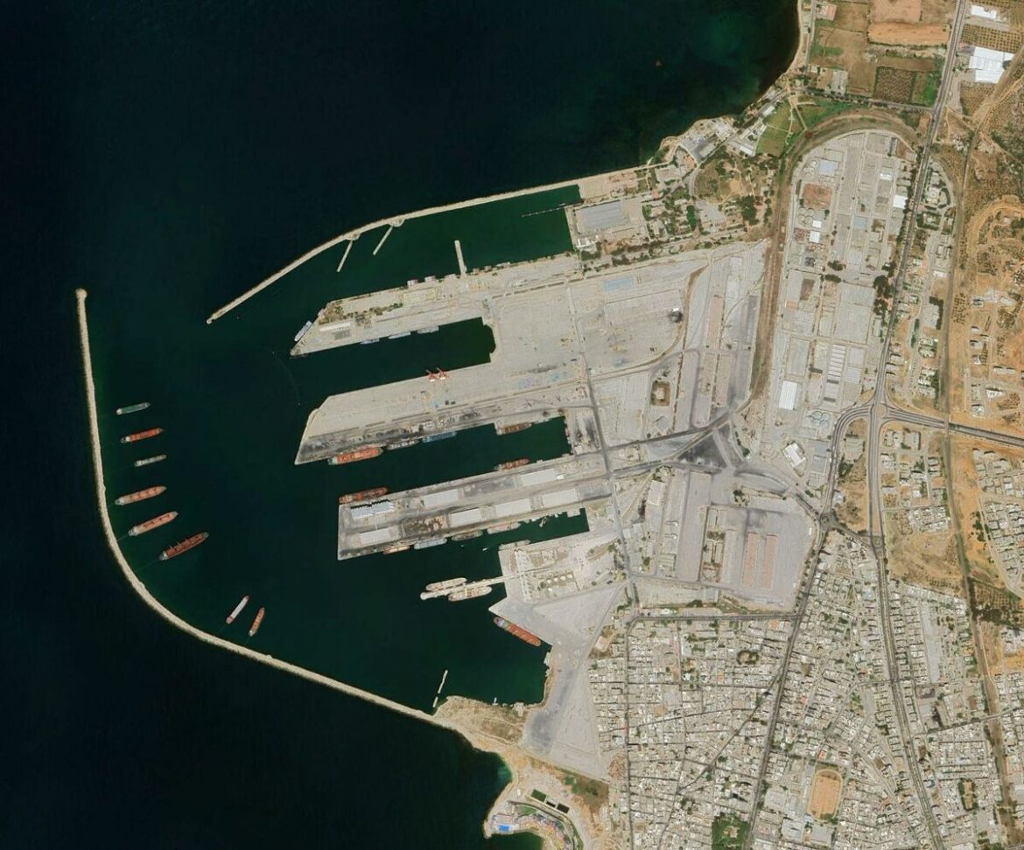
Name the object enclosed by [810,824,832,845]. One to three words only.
building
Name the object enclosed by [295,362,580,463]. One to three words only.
pier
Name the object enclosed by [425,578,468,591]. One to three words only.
ship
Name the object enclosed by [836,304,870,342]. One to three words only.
shed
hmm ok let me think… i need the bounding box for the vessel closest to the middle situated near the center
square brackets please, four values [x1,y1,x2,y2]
[496,422,532,435]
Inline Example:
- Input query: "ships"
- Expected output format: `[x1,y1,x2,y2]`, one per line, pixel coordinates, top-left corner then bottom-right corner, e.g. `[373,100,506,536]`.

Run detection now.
[414,538,447,550]
[495,458,529,471]
[383,545,410,555]
[338,487,388,504]
[327,447,384,466]
[114,486,168,506]
[448,586,493,601]
[417,324,440,332]
[496,422,532,435]
[452,530,483,541]
[487,522,522,534]
[120,428,164,443]
[248,607,265,637]
[422,430,457,443]
[386,439,421,450]
[360,339,380,345]
[116,402,151,414]
[388,332,410,339]
[134,455,166,466]
[492,616,542,646]
[127,512,180,537]
[499,540,530,550]
[158,533,210,562]
[225,596,248,624]
[425,578,468,591]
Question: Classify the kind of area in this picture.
port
